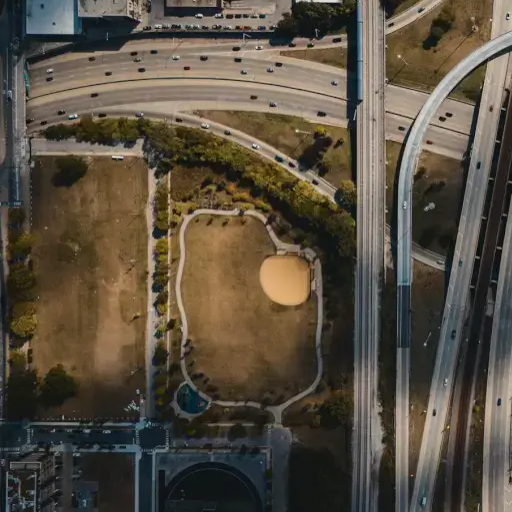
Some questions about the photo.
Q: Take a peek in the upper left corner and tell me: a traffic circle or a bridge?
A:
bridge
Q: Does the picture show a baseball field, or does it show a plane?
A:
baseball field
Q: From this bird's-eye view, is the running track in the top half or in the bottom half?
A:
bottom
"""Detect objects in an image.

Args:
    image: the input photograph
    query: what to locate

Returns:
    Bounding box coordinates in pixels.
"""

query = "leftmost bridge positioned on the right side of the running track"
[351,0,387,512]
